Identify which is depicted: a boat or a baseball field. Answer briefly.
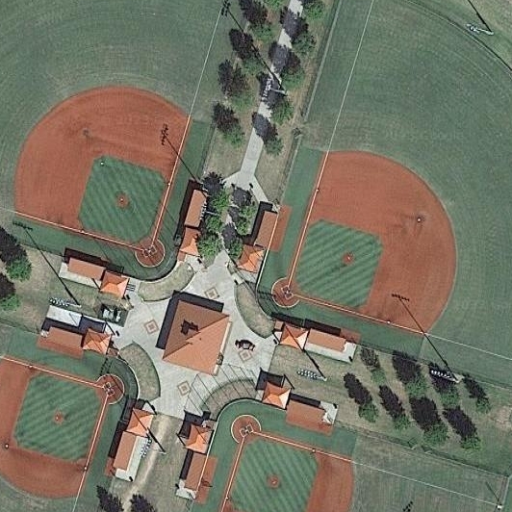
baseball field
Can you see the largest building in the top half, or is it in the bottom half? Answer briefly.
bottom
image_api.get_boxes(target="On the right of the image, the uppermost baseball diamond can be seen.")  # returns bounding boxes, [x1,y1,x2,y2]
[257,0,512,389]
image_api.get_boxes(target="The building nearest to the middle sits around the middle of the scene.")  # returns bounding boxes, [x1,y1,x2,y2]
[238,245,268,273]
